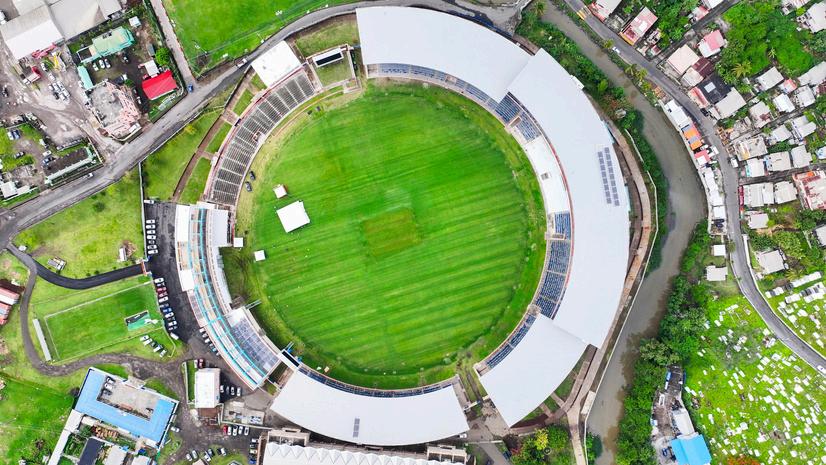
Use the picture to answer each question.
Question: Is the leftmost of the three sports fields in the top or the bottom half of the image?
bottom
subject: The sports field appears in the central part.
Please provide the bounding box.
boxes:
[219,80,547,391]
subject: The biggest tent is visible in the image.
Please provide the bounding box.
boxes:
[277,199,310,232]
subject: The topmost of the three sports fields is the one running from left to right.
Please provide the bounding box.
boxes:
[164,0,343,69]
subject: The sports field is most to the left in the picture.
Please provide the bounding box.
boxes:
[46,281,164,360]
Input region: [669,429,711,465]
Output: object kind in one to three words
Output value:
building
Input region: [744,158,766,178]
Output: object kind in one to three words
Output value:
house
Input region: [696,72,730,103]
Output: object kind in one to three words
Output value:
house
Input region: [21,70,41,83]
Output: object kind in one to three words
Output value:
vehicle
